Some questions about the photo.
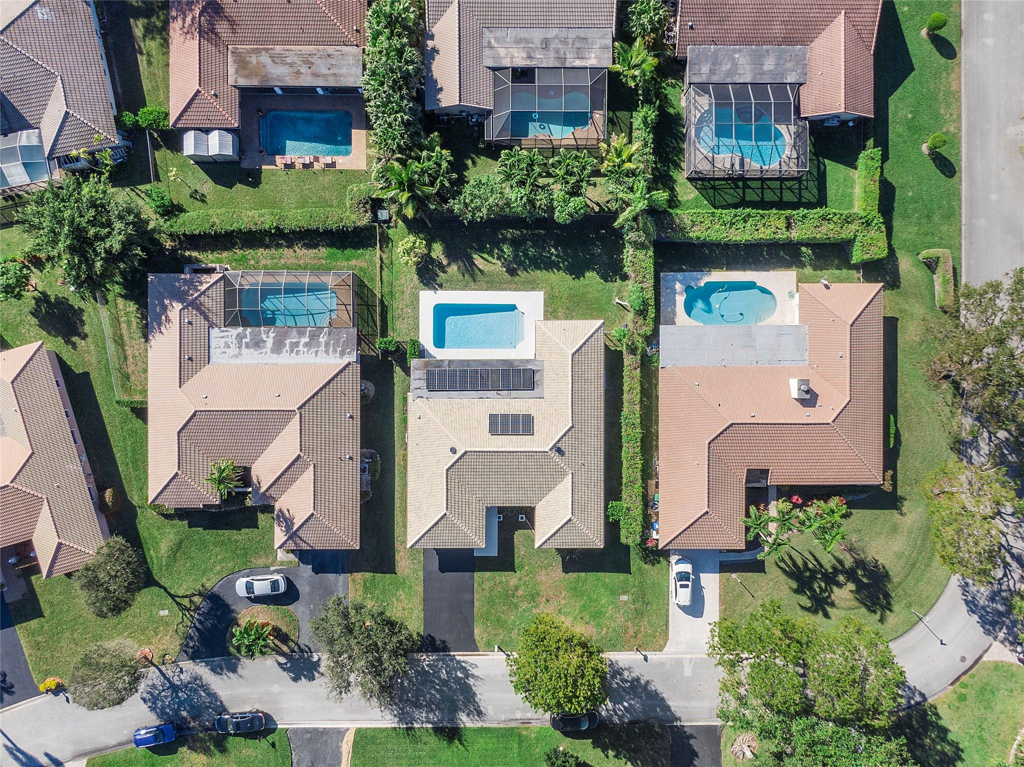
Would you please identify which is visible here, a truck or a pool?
pool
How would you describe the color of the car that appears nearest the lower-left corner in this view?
blue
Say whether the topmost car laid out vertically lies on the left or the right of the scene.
right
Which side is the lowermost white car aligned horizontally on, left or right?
left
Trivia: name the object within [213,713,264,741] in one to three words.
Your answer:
car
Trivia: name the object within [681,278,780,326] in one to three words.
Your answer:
swimming pool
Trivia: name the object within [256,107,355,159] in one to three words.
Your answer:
swimming pool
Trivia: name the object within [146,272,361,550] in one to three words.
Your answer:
house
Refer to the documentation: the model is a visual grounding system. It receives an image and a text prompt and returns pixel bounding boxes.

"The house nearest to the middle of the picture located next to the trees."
[406,318,606,550]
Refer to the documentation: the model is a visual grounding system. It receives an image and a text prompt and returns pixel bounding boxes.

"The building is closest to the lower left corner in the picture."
[0,340,116,580]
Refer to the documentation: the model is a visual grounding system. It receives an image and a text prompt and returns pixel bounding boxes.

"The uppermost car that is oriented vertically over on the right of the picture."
[674,558,698,610]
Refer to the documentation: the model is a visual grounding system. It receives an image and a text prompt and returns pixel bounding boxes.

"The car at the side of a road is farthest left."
[126,724,178,755]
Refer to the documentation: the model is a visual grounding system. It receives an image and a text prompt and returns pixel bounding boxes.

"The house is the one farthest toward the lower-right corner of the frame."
[658,282,886,550]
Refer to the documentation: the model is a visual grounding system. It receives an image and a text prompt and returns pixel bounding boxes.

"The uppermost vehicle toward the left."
[232,575,285,600]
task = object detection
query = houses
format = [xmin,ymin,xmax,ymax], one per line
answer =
[0,340,116,580]
[676,0,883,120]
[406,318,606,550]
[146,272,361,550]
[168,0,369,131]
[0,0,126,159]
[658,282,886,550]
[425,0,617,111]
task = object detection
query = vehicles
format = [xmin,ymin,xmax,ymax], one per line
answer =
[549,712,600,740]
[213,713,264,741]
[232,575,285,600]
[674,558,698,610]
[126,724,178,755]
